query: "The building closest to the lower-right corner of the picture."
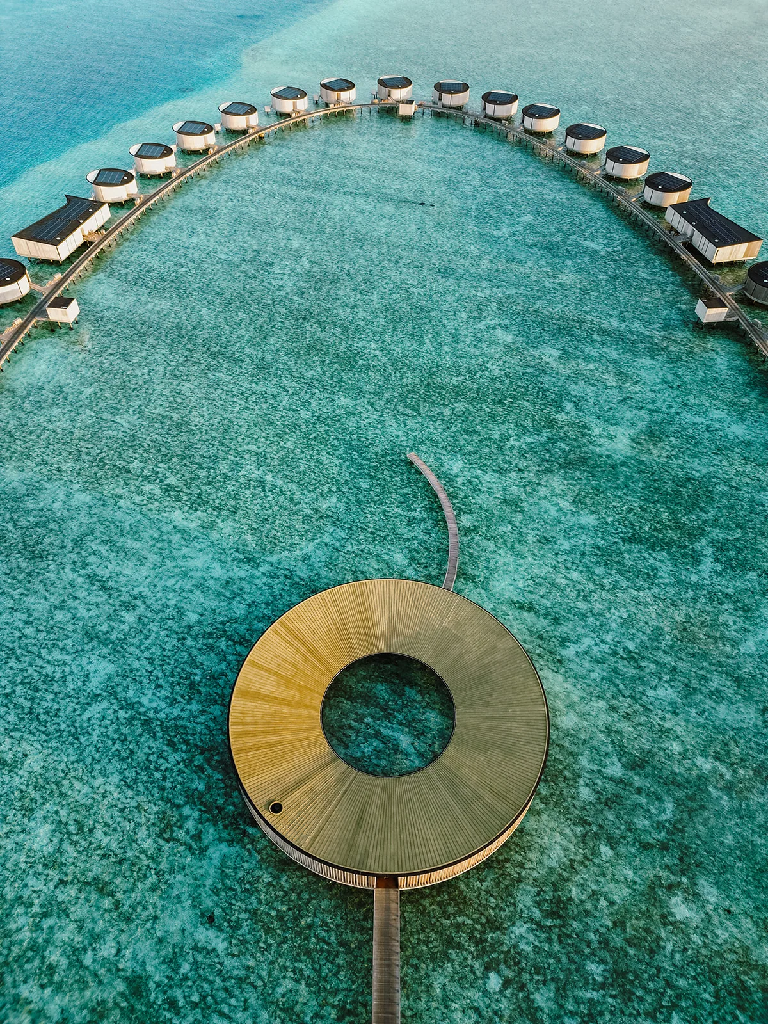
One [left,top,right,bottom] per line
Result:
[228,579,549,889]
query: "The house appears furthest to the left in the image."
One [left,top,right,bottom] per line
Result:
[0,259,34,316]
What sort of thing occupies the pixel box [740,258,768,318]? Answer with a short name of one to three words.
house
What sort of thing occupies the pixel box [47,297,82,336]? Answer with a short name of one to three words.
shed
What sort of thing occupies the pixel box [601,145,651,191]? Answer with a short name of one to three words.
house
